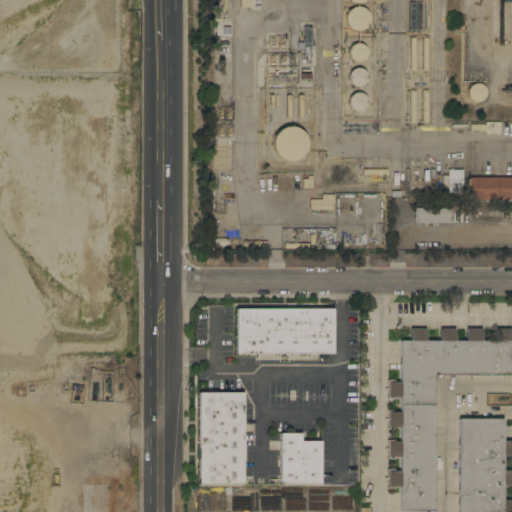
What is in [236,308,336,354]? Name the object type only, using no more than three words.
building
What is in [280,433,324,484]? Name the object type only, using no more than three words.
building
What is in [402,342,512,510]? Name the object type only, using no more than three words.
warehouse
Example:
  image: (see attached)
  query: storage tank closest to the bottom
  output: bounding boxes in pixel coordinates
[274,127,310,162]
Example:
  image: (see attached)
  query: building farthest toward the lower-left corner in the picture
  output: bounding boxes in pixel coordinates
[199,393,246,484]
